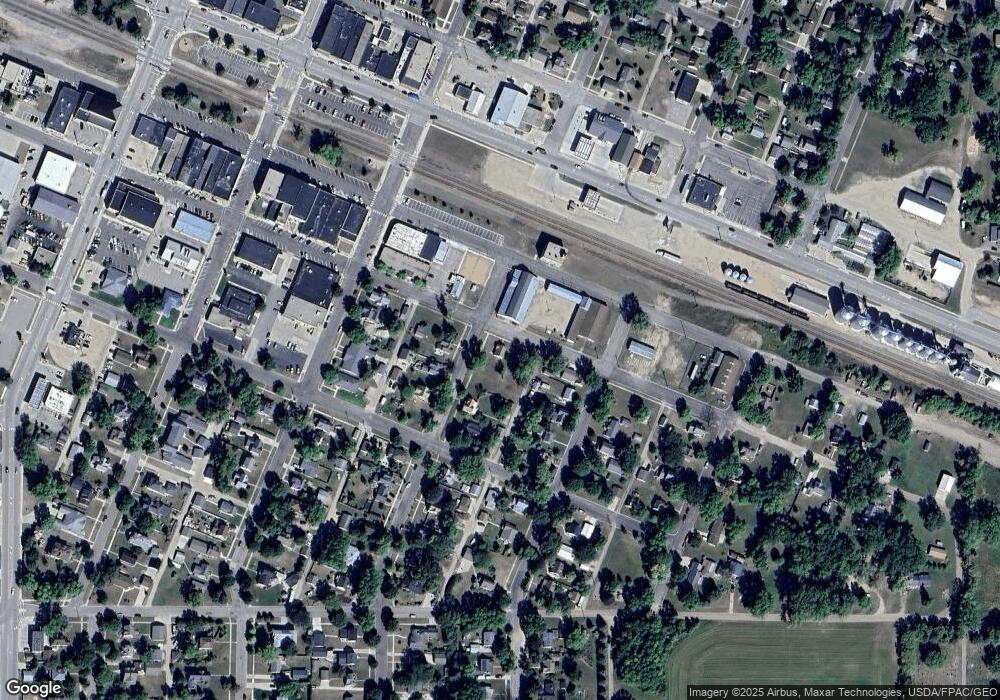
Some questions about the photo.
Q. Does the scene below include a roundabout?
No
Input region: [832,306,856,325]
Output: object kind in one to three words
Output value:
silo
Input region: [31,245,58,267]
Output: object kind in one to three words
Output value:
building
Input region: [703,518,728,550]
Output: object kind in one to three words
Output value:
house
